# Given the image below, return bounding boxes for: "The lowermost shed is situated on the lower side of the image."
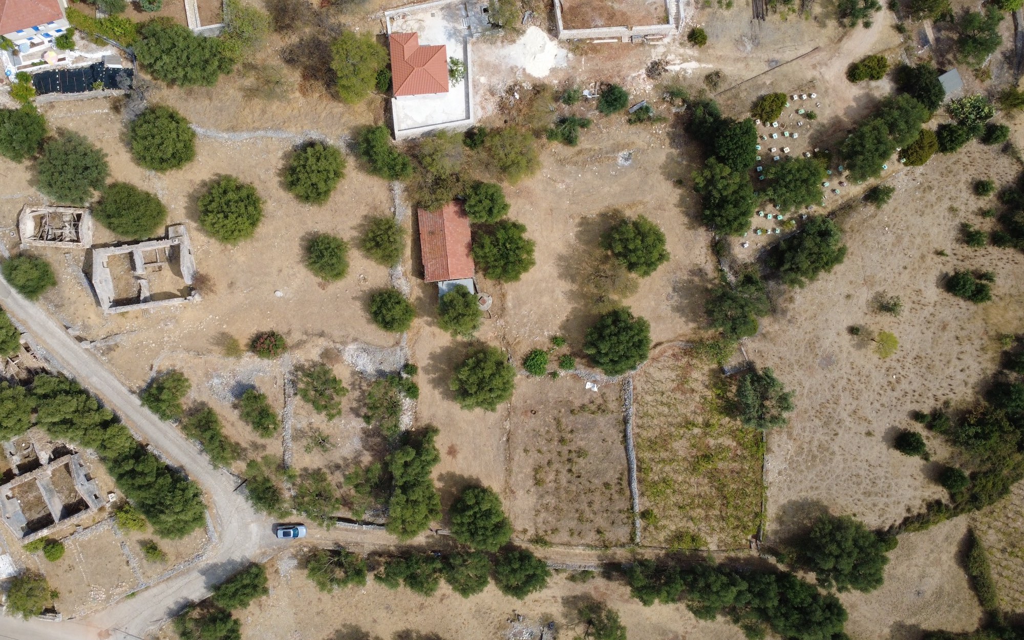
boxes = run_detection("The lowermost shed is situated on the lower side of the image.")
[0,546,28,578]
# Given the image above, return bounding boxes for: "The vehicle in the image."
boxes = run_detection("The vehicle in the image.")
[278,524,308,540]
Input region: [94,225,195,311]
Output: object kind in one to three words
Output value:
house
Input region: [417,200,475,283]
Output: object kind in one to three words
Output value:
barn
